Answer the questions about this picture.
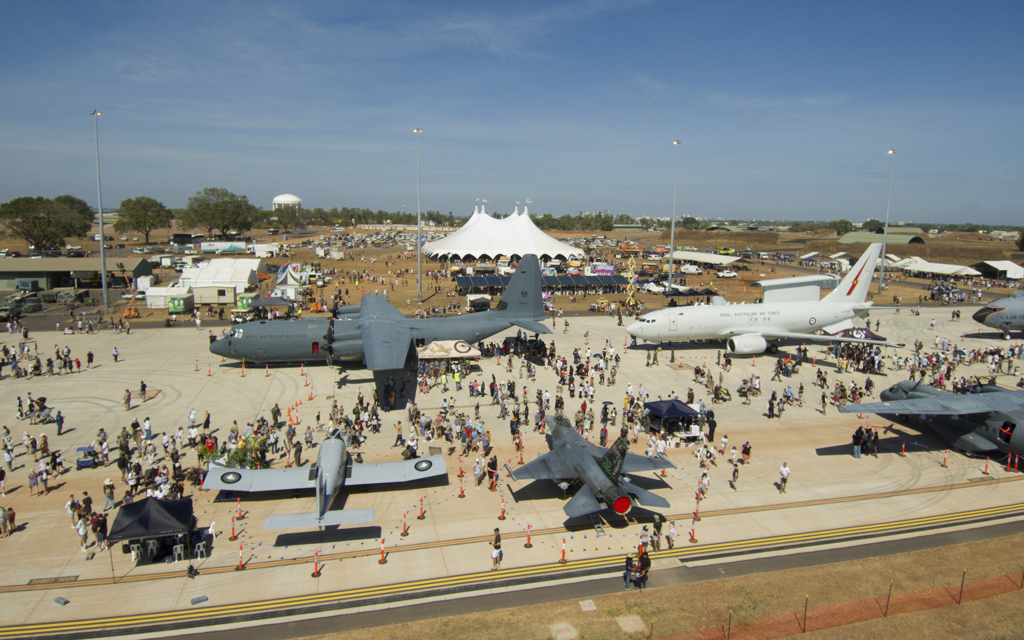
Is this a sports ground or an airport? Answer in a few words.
airport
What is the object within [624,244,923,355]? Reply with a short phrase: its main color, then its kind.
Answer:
white airplane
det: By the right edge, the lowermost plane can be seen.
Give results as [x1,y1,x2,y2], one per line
[825,363,1024,459]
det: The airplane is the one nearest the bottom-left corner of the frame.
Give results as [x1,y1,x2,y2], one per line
[201,412,446,530]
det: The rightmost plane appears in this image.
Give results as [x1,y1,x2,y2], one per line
[971,286,1024,339]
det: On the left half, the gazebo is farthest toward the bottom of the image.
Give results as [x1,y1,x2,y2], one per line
[108,497,201,585]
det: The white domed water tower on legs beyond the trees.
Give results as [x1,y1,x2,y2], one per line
[271,194,301,212]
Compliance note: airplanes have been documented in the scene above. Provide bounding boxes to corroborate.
[624,244,923,355]
[201,412,446,530]
[503,410,679,526]
[210,255,562,377]
[825,363,1024,459]
[971,286,1024,339]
